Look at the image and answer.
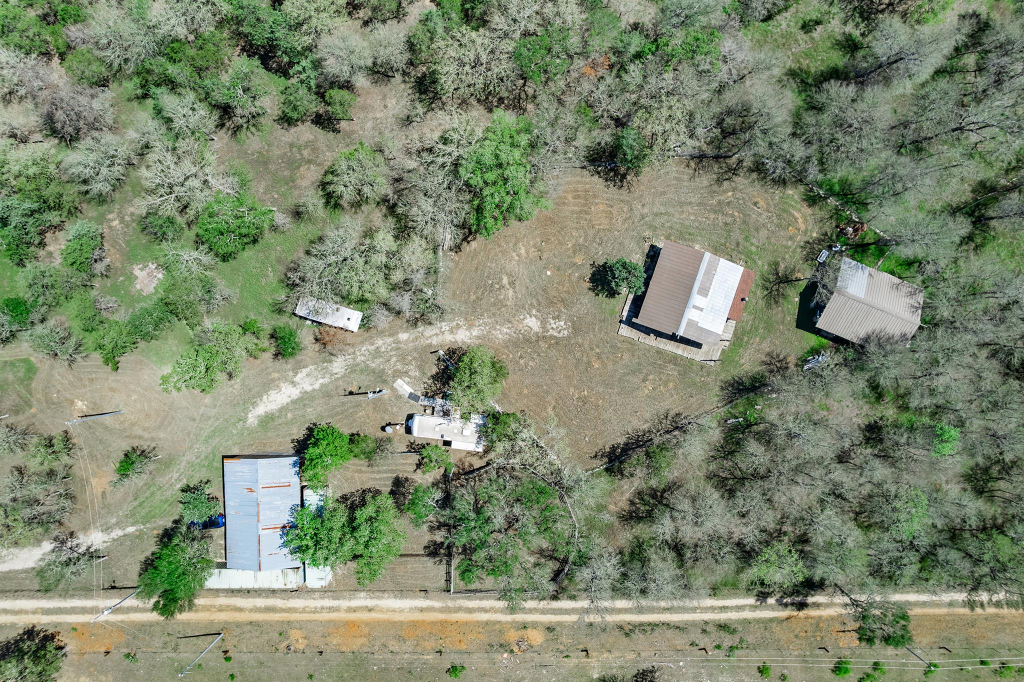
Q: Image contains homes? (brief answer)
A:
Yes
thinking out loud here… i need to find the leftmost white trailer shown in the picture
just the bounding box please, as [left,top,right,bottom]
[295,297,367,331]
